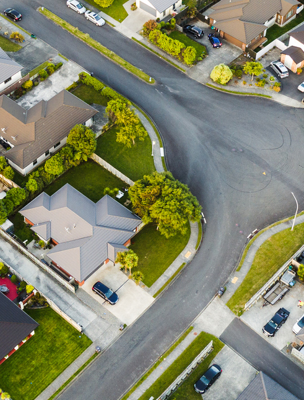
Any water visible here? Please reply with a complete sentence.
No, there's no water in this view.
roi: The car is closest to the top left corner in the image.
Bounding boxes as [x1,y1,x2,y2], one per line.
[2,7,24,23]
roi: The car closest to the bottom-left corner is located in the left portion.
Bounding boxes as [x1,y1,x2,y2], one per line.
[89,278,120,305]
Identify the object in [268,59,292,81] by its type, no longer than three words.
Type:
car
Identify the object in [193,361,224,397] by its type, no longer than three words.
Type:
car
